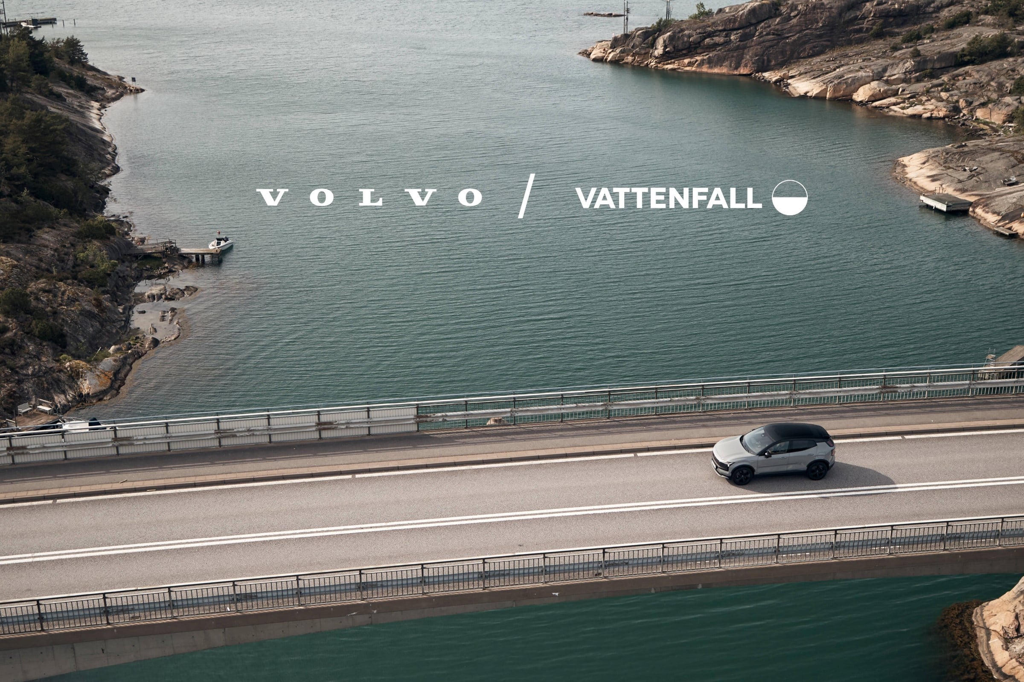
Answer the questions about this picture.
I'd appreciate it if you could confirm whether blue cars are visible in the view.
No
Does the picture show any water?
Yes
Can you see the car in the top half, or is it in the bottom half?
bottom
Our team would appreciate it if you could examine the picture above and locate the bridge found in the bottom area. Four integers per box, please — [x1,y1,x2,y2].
[0,388,1024,681]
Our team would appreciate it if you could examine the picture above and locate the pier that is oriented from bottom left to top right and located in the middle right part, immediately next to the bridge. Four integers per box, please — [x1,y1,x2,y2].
[977,342,1024,380]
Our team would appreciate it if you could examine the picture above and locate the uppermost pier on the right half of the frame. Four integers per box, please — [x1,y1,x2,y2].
[920,188,967,210]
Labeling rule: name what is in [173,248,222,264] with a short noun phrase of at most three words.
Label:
pier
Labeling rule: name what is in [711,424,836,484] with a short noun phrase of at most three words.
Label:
car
